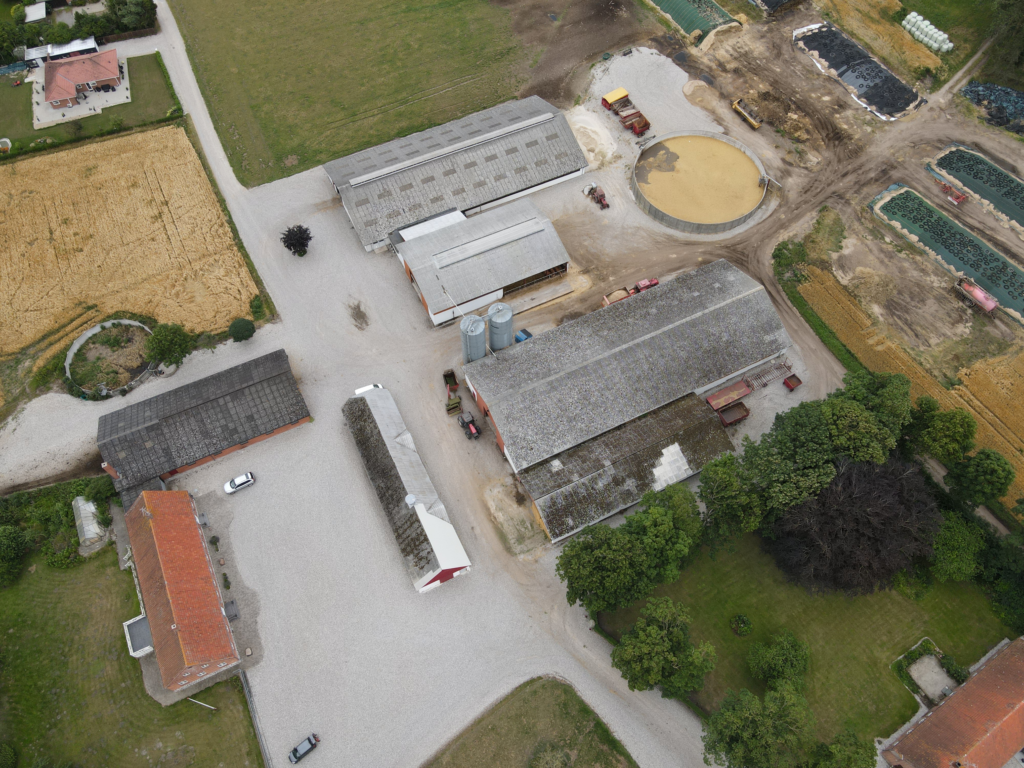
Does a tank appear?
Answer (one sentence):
Yes, the photo shows a tank.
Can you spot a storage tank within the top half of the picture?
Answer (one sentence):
Yes, a storage tank can be seen within the top half of the picture.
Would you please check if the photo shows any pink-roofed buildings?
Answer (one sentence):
Yes, this view includes a pink-roofed building.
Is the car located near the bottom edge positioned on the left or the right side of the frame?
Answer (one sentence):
It is on the left.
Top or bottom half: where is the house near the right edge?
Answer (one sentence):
Seen from above, the house near the right edge lies in the bottom half of the view.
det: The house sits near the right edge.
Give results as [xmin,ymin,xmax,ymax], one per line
[886,637,1024,768]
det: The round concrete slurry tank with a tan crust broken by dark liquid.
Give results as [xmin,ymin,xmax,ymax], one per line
[633,129,766,235]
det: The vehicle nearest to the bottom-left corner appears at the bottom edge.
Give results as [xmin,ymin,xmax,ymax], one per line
[283,730,321,768]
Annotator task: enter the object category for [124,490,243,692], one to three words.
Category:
house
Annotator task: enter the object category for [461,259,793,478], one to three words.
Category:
barn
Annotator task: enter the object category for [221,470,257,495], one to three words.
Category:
car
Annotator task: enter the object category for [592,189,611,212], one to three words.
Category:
work vehicle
